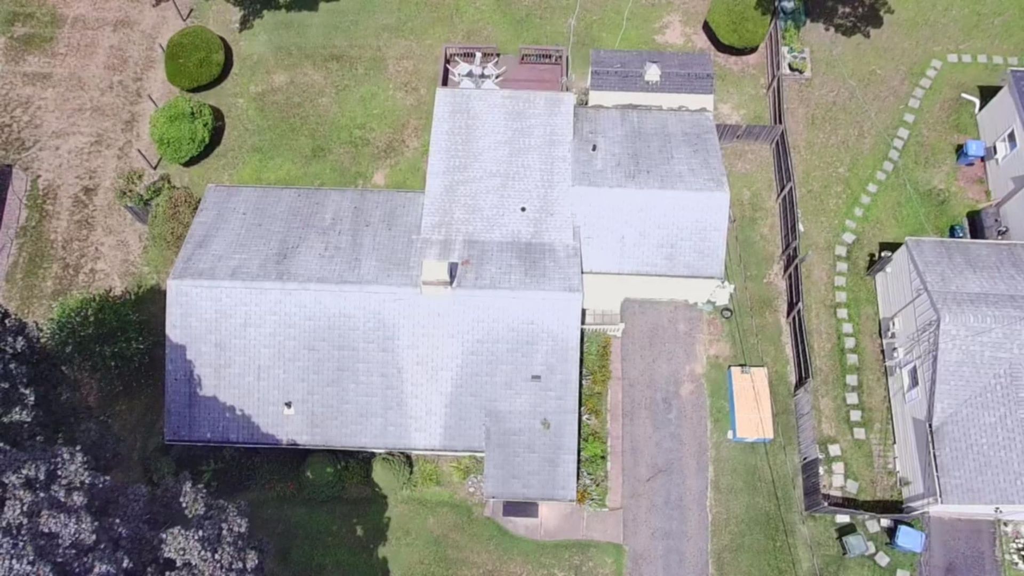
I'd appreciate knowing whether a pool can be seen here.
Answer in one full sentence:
No, the scene contains no pool.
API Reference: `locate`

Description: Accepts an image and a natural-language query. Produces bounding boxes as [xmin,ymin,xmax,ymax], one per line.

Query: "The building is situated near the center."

[163,87,729,505]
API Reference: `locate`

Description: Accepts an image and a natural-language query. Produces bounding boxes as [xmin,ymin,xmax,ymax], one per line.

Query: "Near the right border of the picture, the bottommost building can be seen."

[880,236,1024,519]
